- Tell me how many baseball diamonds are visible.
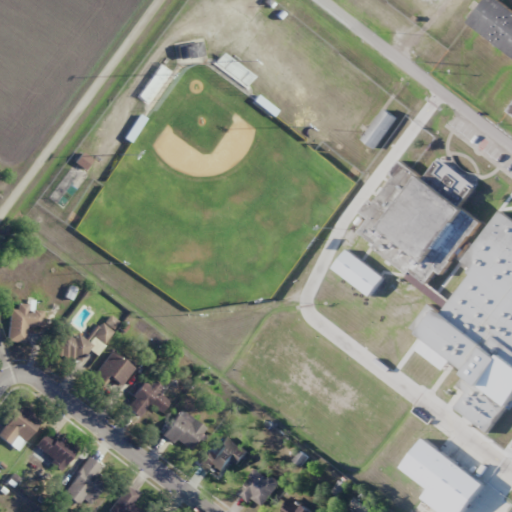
1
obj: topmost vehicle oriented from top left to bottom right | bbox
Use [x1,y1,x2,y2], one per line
[374,358,391,372]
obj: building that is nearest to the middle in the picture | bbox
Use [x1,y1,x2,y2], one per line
[331,250,382,296]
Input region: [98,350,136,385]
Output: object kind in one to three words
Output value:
house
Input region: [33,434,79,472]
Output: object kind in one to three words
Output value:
house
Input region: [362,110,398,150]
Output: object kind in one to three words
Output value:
building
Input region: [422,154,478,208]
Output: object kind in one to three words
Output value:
building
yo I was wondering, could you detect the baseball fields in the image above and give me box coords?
[78,65,354,310]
